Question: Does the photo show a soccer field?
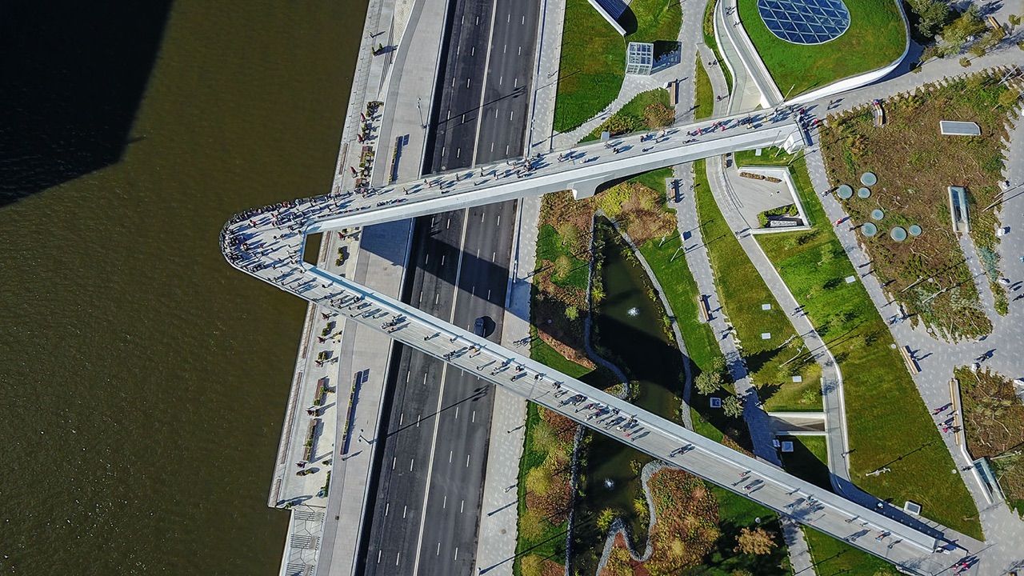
No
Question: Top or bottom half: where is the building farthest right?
top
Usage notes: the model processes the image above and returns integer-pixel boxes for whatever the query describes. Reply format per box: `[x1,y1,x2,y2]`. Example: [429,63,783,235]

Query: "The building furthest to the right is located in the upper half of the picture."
[737,0,910,103]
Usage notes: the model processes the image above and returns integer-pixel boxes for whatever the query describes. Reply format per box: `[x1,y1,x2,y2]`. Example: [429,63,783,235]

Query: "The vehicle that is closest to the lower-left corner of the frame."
[476,316,488,339]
